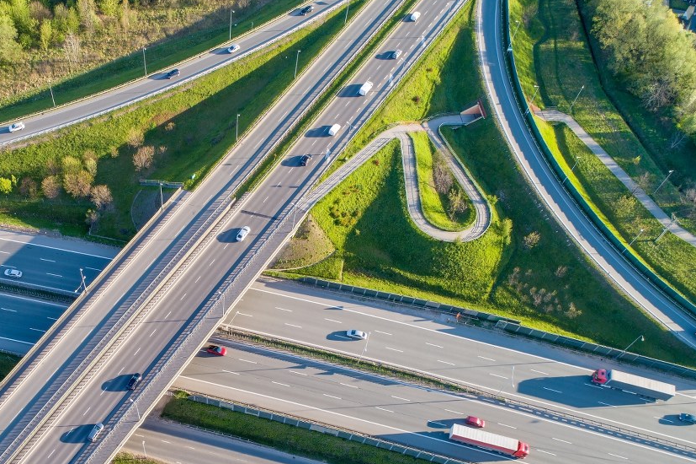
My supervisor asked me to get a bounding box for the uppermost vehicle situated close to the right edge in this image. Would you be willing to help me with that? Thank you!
[593,368,676,401]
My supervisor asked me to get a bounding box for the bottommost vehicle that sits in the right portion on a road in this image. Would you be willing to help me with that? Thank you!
[450,424,529,459]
